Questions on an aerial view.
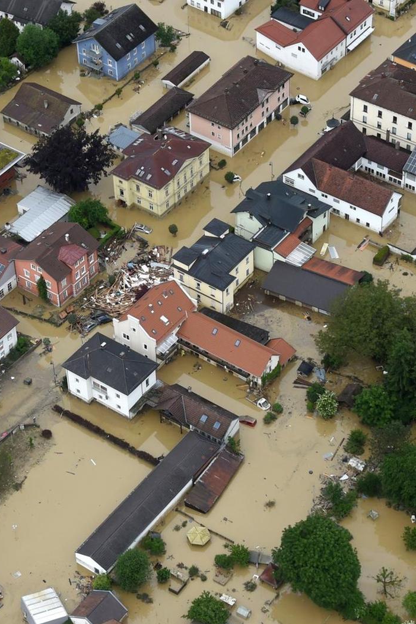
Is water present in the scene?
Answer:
Yes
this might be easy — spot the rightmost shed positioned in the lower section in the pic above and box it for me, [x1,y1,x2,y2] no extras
[337,381,364,410]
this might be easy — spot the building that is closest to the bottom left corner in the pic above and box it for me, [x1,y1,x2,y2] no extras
[21,587,67,624]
